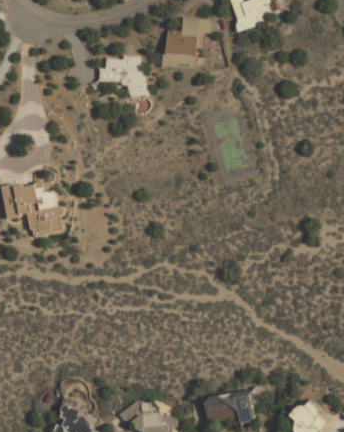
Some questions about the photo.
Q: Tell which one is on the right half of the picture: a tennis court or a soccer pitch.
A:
tennis court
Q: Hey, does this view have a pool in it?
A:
No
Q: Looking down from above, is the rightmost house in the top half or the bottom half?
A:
bottom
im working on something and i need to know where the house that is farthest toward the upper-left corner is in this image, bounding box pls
[98,56,150,98]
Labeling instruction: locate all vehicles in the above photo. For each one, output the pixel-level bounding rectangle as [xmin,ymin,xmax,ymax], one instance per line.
[220,21,225,31]
[44,394,50,404]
